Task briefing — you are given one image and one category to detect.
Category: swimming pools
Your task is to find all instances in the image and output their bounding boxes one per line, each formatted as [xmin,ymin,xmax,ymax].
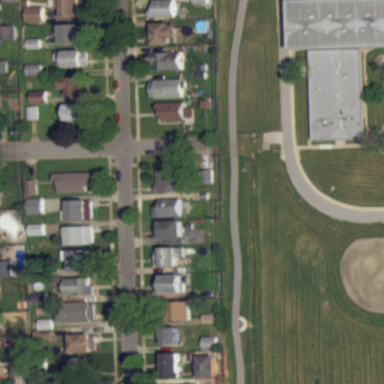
[34,281,44,292]
[0,212,22,242]
[196,20,210,32]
